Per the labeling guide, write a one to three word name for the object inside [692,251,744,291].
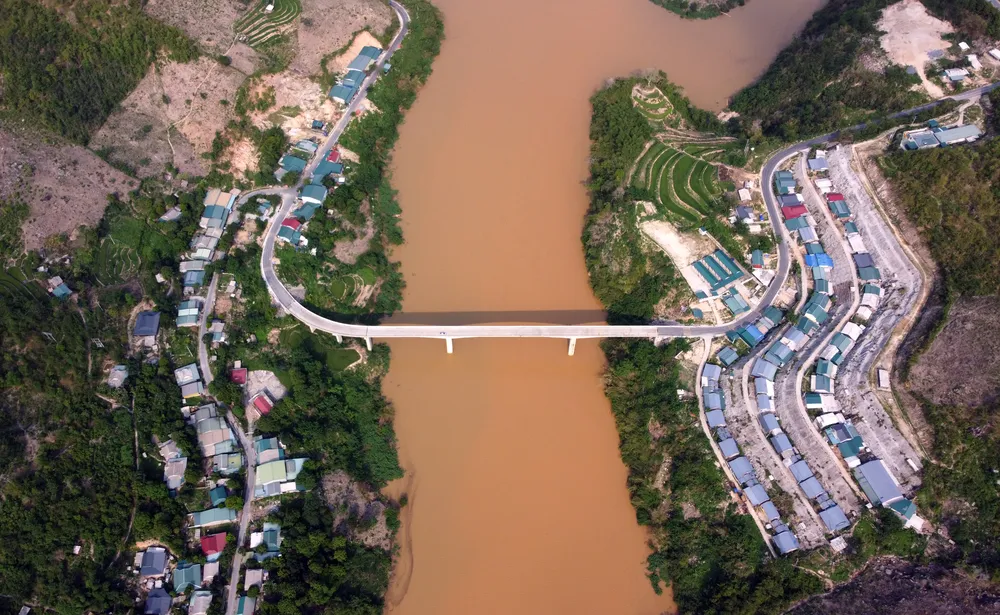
building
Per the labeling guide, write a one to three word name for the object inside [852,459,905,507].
building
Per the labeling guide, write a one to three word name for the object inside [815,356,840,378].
house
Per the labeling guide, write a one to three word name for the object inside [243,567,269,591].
house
